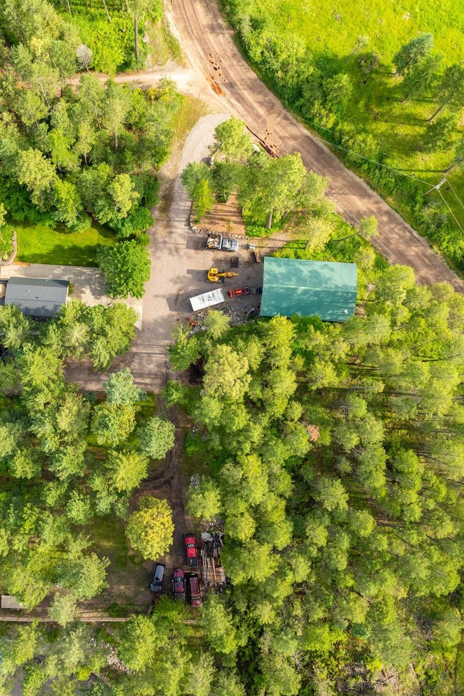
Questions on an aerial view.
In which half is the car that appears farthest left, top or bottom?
bottom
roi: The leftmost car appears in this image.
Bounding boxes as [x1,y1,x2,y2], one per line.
[147,562,167,593]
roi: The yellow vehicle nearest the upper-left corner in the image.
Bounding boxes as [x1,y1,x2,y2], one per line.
[206,268,240,283]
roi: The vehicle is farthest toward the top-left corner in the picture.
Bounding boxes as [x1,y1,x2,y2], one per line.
[206,234,239,252]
